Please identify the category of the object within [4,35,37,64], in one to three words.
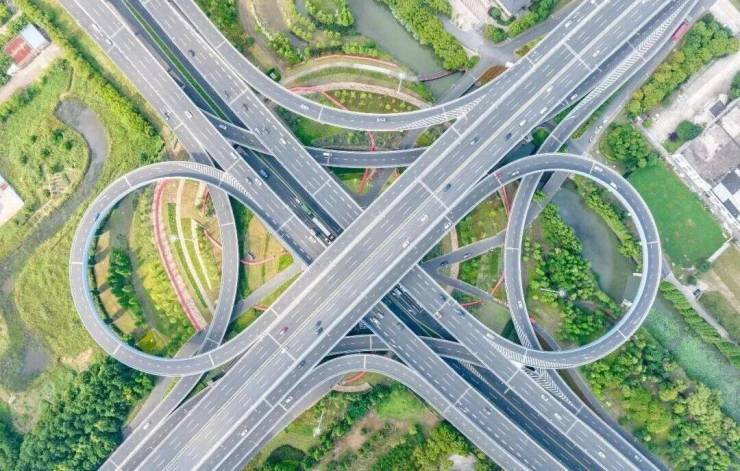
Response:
house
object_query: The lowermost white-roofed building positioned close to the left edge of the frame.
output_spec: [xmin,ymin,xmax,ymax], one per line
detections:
[0,164,32,227]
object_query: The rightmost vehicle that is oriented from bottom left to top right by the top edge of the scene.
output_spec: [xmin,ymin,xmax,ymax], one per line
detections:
[673,19,694,43]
